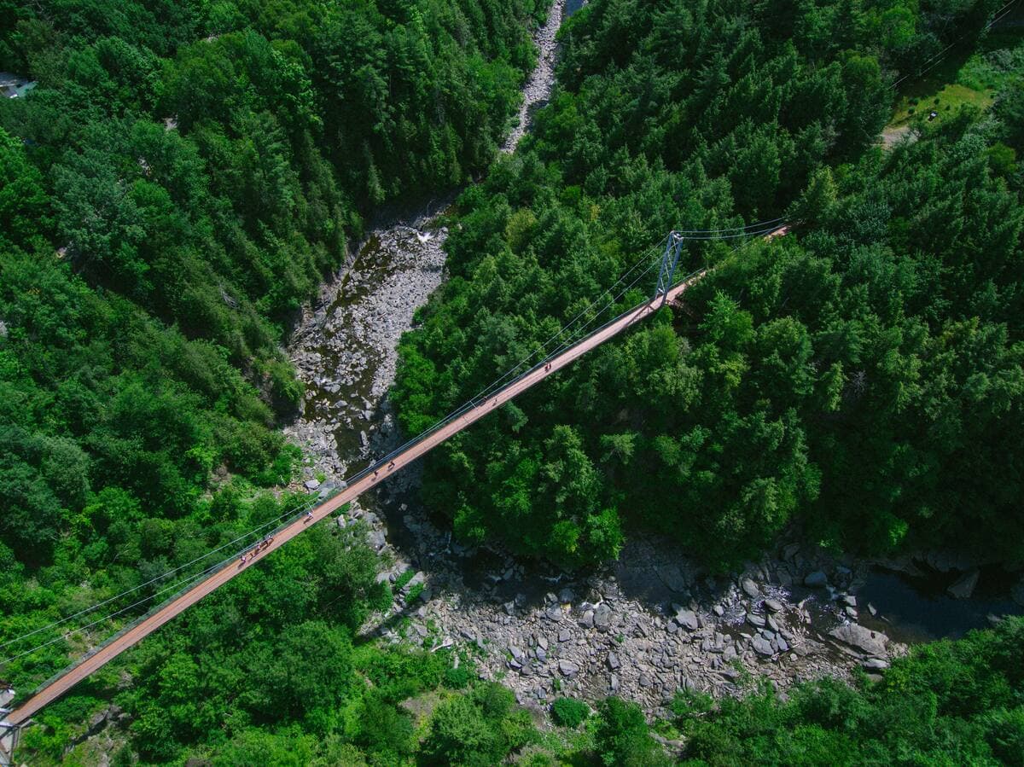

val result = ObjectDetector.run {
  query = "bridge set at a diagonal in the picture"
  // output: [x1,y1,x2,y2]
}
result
[0,213,799,735]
